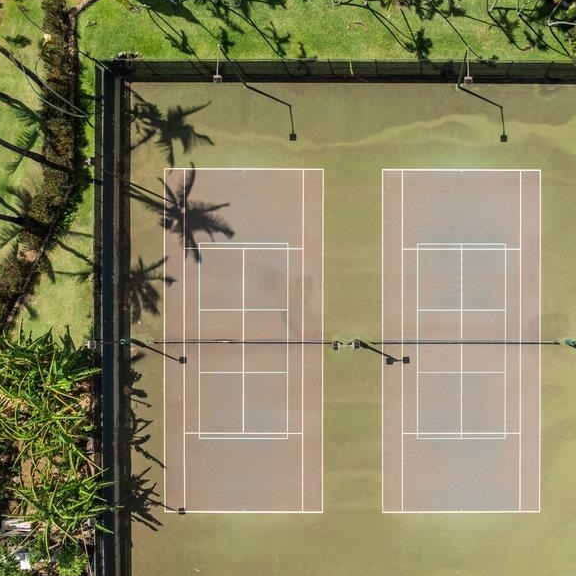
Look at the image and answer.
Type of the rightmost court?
tennis court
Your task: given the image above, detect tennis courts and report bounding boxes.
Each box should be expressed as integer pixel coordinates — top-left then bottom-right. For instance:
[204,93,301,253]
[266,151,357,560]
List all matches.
[382,169,541,513]
[163,169,323,514]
